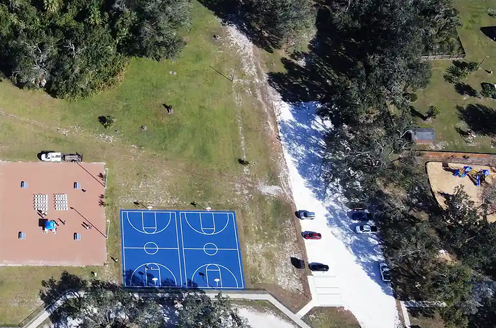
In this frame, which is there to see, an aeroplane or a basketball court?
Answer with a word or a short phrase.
basketball court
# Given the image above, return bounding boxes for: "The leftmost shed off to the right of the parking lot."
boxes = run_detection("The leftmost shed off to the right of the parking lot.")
[411,127,438,144]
